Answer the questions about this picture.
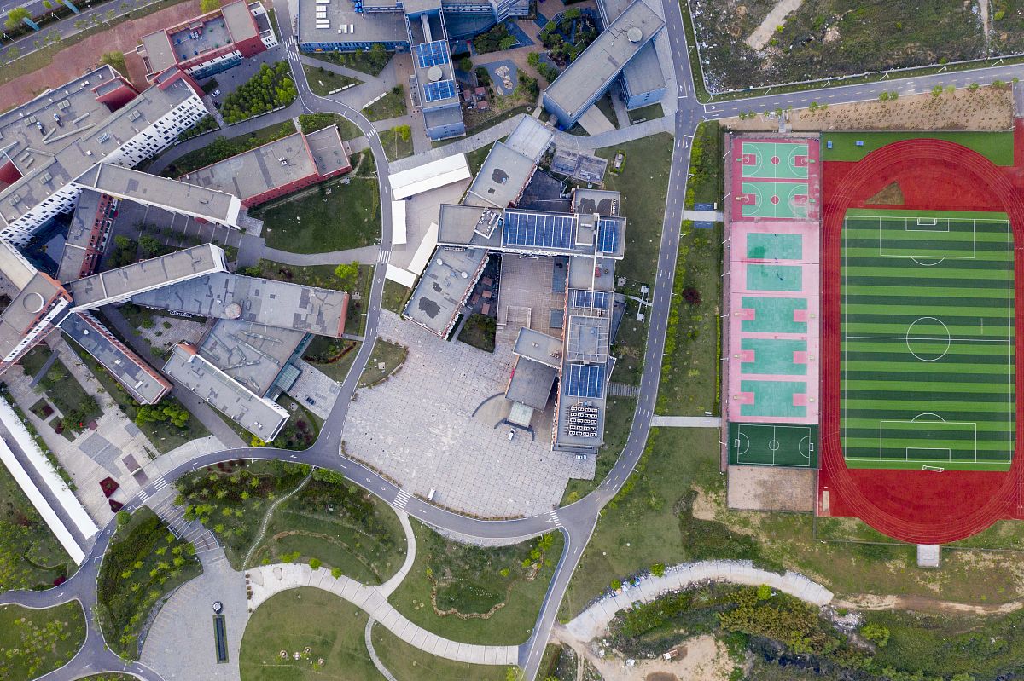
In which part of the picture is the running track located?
right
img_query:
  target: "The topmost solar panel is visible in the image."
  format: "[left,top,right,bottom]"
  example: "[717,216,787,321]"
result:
[416,39,449,68]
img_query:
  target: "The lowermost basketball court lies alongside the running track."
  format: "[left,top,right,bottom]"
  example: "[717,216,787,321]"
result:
[741,380,807,417]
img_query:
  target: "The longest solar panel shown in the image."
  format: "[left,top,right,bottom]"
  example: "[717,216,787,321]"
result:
[503,212,577,249]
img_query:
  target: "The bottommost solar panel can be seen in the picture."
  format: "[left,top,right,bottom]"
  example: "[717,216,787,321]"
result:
[564,364,599,398]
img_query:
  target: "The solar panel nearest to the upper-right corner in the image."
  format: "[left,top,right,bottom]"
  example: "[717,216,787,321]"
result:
[597,219,619,253]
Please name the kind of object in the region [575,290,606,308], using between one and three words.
solar panel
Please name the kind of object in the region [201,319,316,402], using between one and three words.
building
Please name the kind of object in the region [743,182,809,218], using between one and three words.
basketball court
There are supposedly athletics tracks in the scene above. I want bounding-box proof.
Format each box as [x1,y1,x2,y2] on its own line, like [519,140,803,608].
[822,137,1024,548]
